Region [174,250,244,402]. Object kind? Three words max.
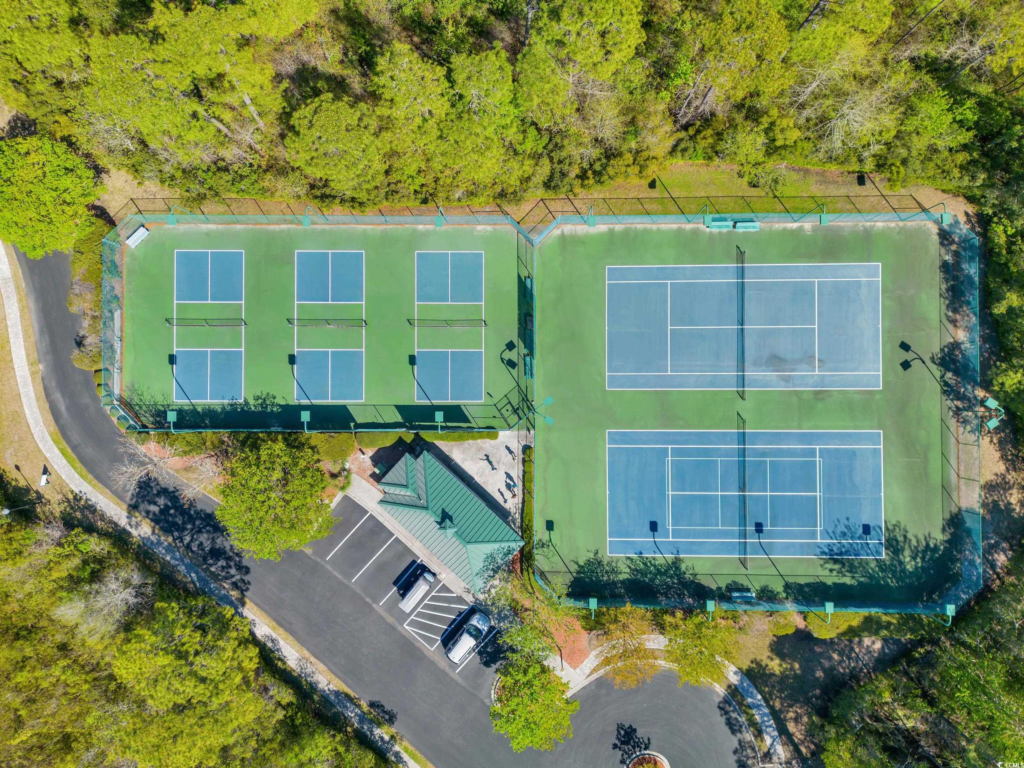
sports court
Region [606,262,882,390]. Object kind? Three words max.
tennis court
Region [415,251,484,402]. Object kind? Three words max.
sports court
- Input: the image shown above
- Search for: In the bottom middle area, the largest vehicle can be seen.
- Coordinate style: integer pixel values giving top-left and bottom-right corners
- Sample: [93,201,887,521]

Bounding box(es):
[445,610,491,665]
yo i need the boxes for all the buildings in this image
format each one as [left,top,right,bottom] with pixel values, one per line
[377,450,524,593]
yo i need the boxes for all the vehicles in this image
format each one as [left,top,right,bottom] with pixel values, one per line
[397,570,435,613]
[445,610,491,665]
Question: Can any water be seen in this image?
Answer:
No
